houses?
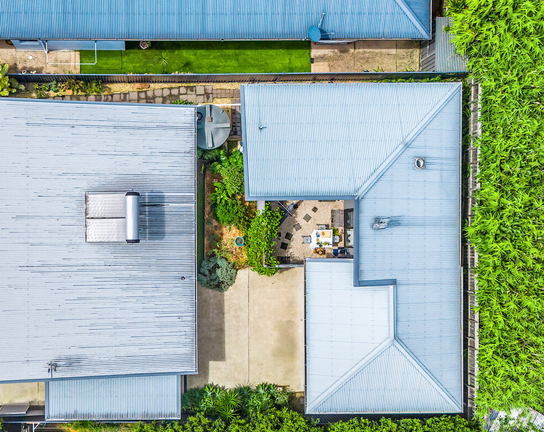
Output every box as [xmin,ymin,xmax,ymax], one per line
[0,98,199,384]
[241,82,464,417]
[0,0,433,53]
